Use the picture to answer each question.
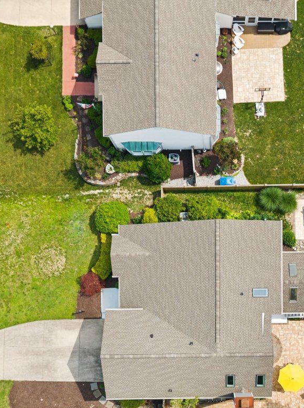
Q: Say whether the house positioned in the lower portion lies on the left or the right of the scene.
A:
right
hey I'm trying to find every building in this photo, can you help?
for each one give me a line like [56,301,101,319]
[77,0,299,157]
[101,220,304,408]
